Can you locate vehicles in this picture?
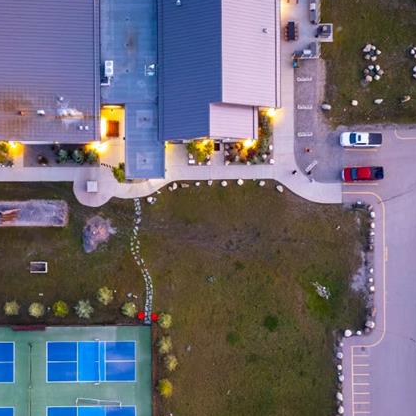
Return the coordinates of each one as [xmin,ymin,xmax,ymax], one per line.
[339,131,381,148]
[341,166,383,182]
